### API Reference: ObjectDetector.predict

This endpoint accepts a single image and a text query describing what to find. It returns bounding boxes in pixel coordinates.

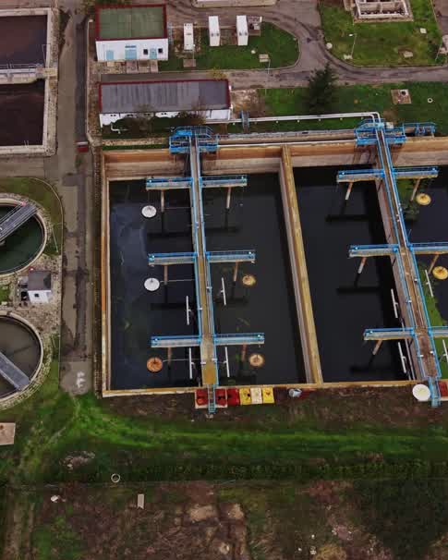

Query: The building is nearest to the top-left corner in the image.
[96,3,169,72]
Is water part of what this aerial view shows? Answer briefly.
Yes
